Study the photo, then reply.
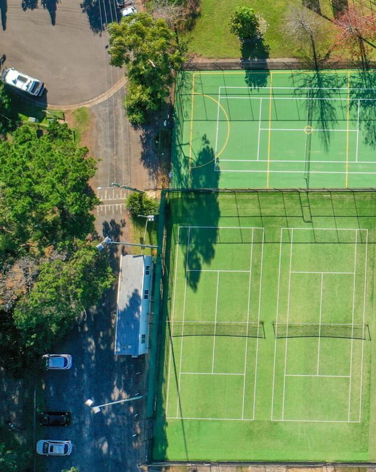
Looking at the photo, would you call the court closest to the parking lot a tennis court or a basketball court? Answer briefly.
tennis court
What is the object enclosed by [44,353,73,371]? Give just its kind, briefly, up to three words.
car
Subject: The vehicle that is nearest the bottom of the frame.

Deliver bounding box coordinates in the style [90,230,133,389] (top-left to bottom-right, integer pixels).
[33,439,71,459]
